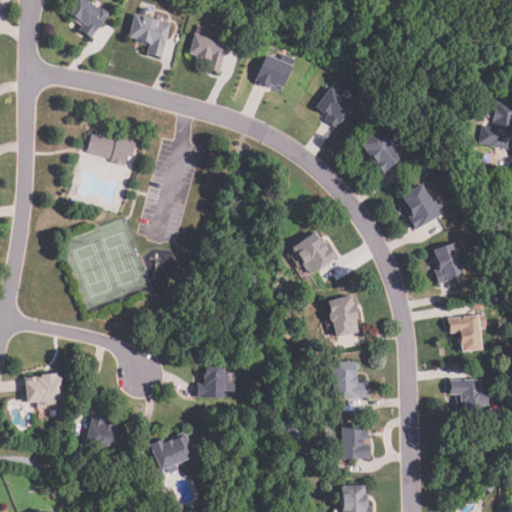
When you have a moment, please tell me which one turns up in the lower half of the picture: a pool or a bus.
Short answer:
pool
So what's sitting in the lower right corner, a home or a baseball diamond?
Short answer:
home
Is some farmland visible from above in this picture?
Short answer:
No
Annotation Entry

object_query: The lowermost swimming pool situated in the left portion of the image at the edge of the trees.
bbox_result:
[164,469,196,507]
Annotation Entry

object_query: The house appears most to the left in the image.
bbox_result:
[25,374,62,410]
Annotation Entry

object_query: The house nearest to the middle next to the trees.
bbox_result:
[292,231,338,272]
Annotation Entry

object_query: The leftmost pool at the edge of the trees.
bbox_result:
[7,398,34,430]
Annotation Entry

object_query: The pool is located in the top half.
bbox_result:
[70,150,134,212]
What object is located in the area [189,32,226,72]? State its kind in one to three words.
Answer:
house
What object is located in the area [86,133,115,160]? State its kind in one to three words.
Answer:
building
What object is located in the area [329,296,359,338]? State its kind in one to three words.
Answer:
house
